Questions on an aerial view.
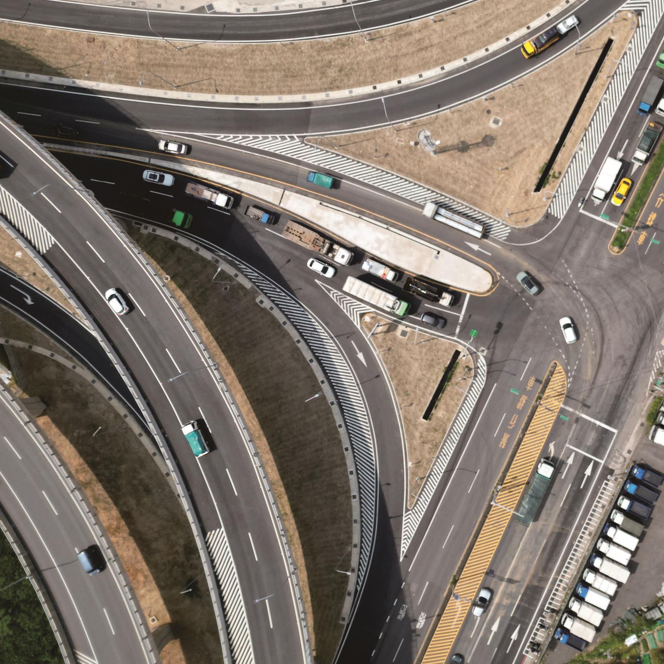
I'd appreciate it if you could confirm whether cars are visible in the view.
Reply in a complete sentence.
Yes, looking at the shot, I can spot a car.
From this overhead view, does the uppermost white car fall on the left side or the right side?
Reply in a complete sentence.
The uppermost white car appears in the right half of the scene.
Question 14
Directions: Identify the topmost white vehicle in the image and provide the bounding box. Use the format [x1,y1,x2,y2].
[556,14,581,35]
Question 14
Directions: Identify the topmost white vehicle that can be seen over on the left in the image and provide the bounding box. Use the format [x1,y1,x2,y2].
[158,139,189,154]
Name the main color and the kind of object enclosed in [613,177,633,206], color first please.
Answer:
yellow car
